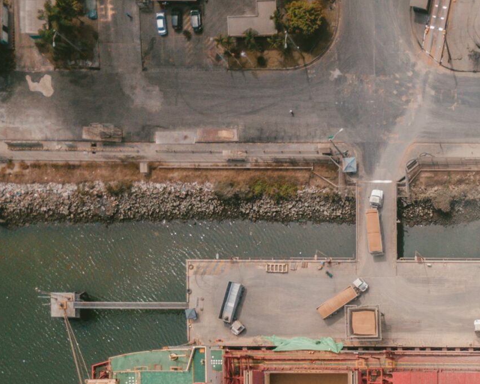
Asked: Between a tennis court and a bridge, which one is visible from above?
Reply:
bridge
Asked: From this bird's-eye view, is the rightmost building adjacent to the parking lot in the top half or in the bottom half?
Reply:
top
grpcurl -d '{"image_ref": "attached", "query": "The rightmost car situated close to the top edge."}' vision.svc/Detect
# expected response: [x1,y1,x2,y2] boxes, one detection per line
[191,10,203,34]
